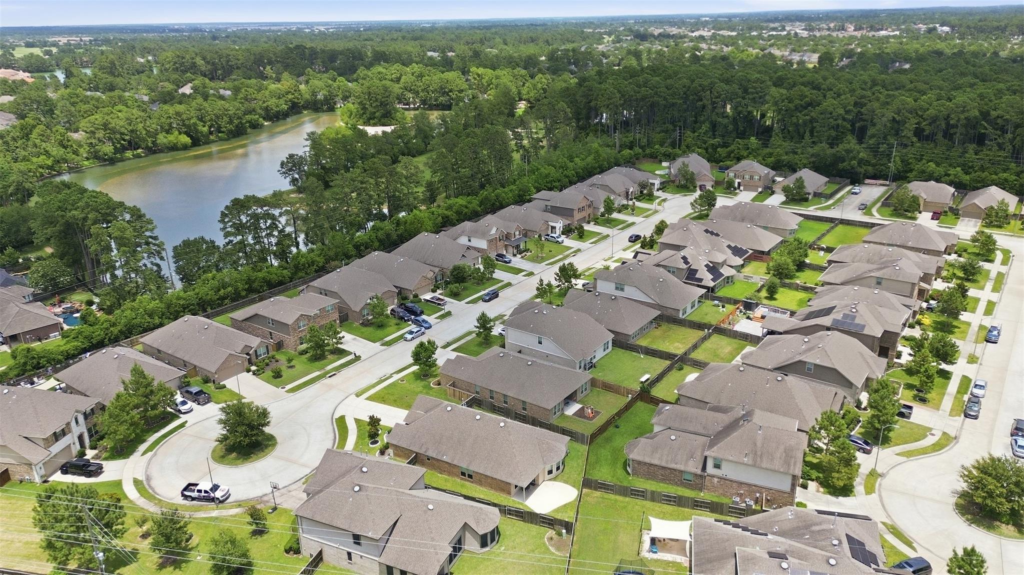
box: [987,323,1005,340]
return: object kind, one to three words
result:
vehicle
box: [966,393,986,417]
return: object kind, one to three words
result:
car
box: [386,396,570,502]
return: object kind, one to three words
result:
house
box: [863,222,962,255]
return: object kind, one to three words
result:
house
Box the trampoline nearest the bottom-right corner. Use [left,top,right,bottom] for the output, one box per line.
[606,549,643,575]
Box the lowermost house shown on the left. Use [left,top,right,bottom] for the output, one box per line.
[292,450,501,575]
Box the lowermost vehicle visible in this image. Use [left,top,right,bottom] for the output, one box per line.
[885,549,937,575]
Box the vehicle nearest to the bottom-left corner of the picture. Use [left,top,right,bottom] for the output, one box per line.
[56,453,103,474]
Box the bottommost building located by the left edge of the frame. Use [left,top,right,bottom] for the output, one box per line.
[0,388,106,481]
